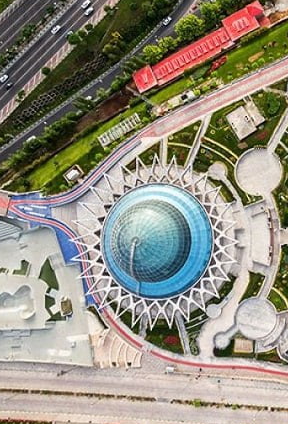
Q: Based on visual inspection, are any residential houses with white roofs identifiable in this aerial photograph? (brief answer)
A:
Yes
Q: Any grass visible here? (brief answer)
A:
Yes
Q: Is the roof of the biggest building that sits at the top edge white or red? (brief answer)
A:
red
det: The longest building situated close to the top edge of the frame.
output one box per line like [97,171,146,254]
[137,2,273,95]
